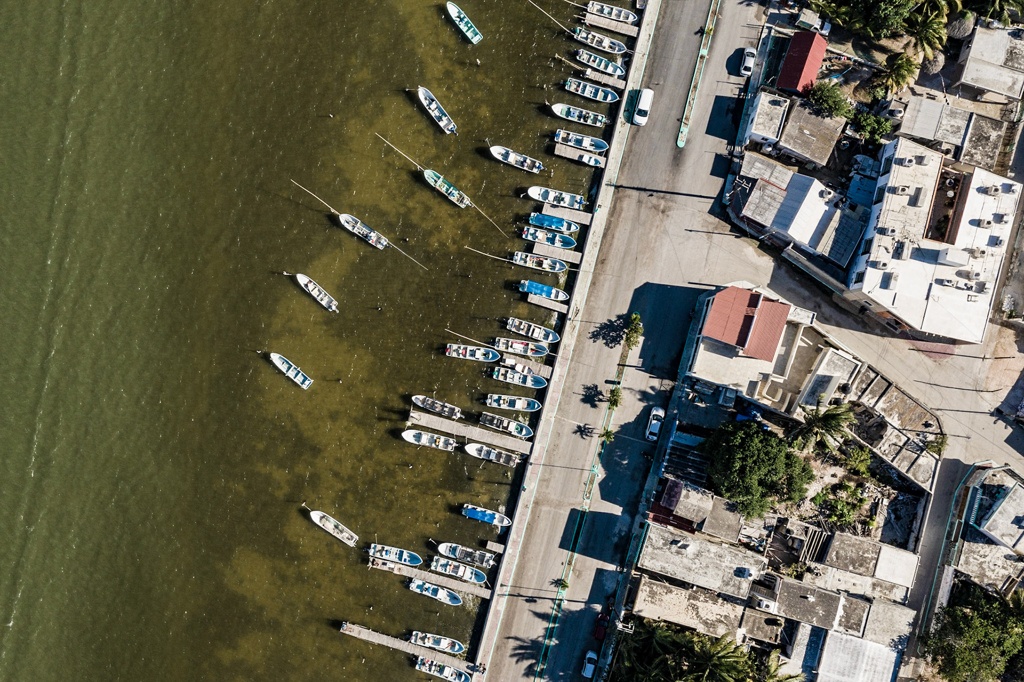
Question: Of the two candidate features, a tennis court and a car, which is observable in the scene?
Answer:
car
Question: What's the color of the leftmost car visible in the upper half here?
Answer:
white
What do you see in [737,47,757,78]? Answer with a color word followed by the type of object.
white car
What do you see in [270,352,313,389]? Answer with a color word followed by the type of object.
white boat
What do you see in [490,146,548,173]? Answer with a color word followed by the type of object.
white boat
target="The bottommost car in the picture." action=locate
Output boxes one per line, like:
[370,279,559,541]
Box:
[579,648,596,680]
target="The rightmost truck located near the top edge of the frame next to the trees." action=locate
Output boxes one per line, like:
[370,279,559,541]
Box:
[796,8,831,38]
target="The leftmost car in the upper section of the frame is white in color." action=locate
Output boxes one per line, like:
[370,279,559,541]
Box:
[633,88,653,126]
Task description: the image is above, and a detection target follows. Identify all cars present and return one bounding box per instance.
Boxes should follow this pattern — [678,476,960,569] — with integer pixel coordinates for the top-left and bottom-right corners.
[591,611,609,642]
[633,88,653,126]
[737,47,757,78]
[644,406,664,442]
[579,648,596,680]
